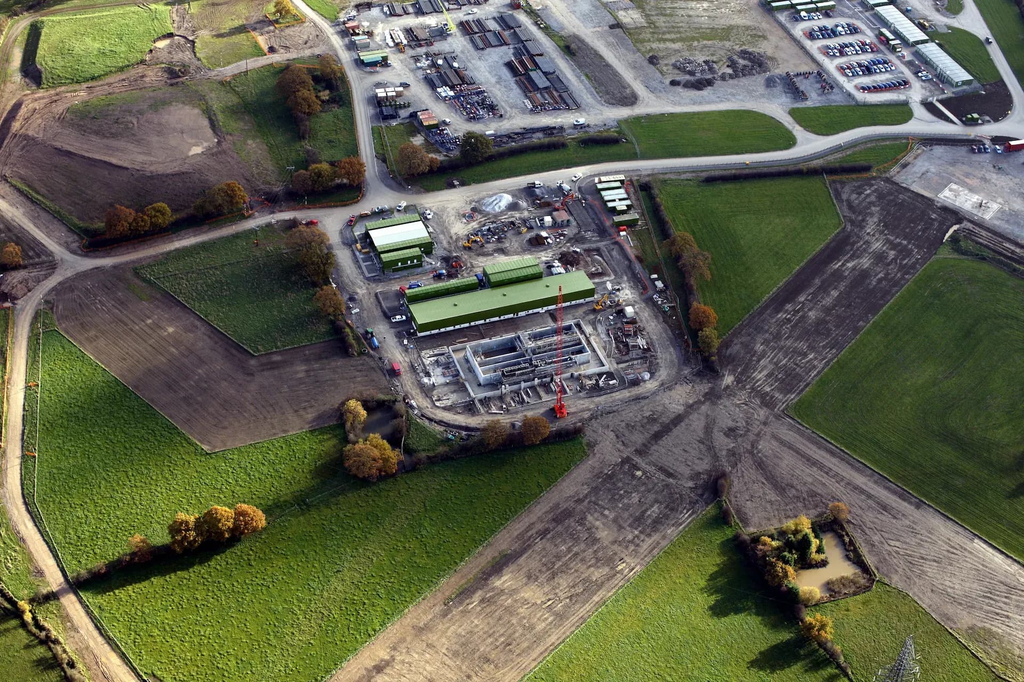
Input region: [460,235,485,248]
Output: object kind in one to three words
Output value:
vehicle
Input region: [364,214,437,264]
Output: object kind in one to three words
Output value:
building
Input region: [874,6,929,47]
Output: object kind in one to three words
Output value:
building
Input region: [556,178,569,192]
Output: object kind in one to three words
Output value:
vehicle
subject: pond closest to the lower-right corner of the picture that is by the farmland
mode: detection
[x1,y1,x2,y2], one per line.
[796,533,860,595]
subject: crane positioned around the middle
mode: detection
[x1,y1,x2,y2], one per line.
[553,286,568,421]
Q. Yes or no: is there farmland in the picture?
Yes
